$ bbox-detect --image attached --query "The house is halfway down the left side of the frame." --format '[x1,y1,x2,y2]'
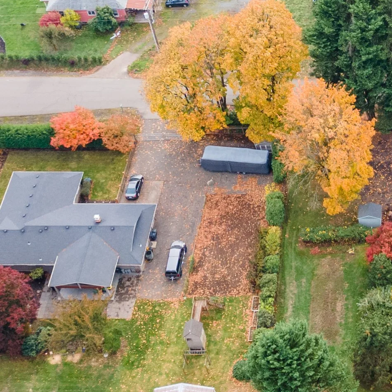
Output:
[0,168,158,298]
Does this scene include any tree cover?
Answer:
Yes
